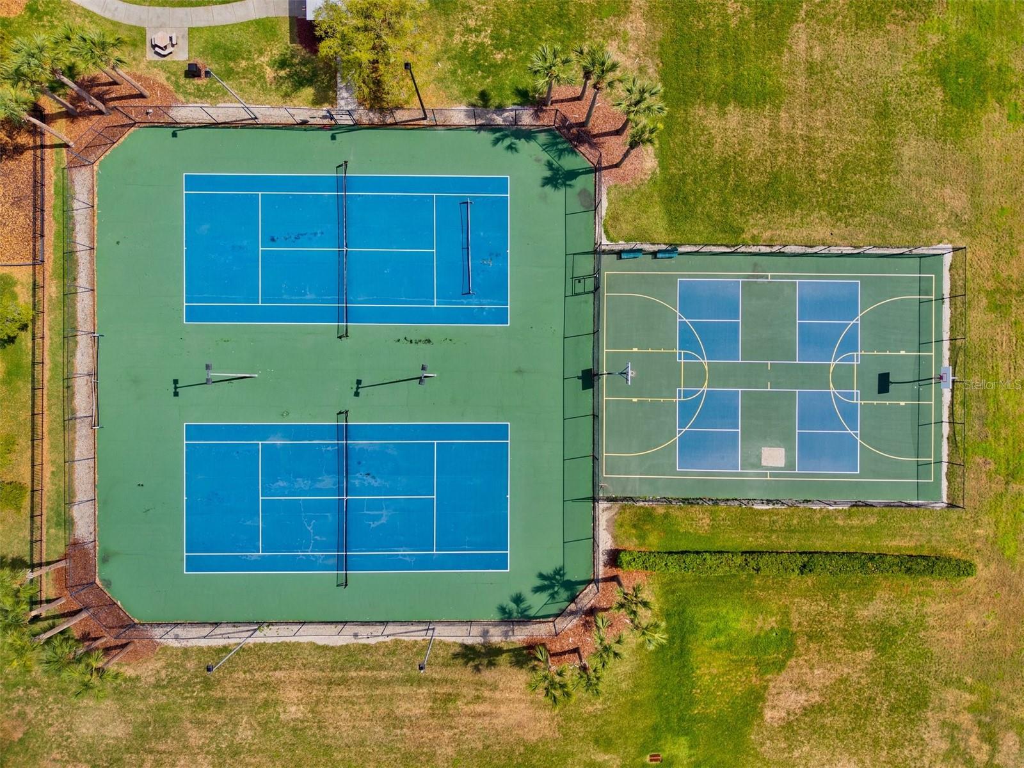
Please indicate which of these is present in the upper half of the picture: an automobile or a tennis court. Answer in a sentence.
Visible in the upper half of the picture is a tennis court.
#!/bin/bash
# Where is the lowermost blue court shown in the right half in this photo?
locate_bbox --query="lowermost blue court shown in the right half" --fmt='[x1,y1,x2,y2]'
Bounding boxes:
[677,388,860,473]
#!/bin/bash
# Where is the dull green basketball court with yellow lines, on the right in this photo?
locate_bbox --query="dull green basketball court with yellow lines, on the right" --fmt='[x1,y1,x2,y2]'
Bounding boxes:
[595,254,943,502]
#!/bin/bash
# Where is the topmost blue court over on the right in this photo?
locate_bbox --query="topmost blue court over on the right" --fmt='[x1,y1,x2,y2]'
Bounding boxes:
[677,279,860,363]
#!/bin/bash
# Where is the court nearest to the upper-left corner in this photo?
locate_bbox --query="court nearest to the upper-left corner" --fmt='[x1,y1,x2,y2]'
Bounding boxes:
[184,173,509,325]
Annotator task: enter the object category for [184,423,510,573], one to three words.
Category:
tennis court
